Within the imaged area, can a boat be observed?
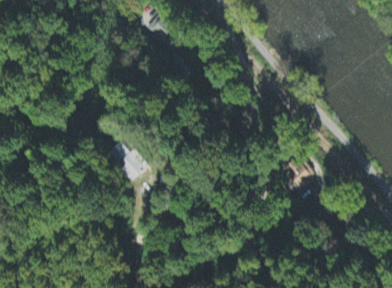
No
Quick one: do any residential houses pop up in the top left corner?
No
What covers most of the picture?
trees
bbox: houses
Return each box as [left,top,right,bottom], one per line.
[114,151,150,182]
[284,159,314,186]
